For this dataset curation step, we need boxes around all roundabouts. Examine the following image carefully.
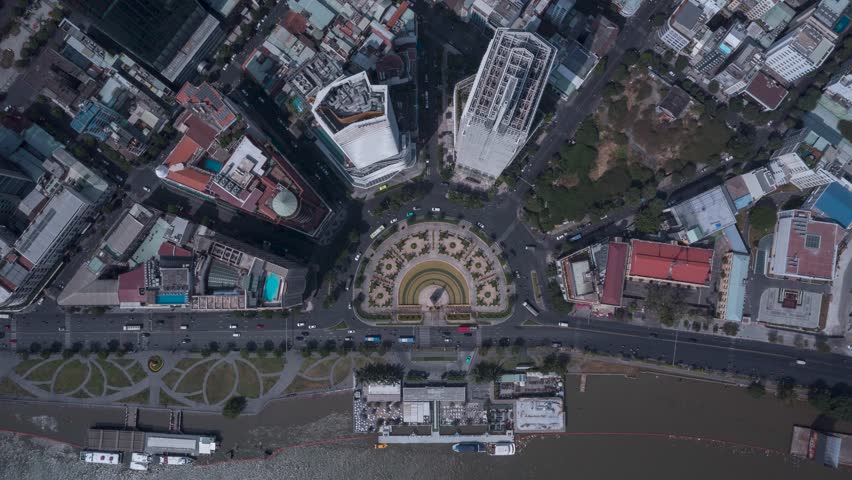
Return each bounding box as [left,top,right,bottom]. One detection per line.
[354,218,512,325]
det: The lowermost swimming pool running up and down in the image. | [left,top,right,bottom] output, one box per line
[265,273,280,301]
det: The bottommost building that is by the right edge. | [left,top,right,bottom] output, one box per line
[807,430,841,468]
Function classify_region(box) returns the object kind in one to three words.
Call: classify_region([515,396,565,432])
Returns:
building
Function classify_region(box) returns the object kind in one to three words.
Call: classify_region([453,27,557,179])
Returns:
building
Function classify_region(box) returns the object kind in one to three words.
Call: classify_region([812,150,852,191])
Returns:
house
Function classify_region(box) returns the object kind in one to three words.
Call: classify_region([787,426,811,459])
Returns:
pier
